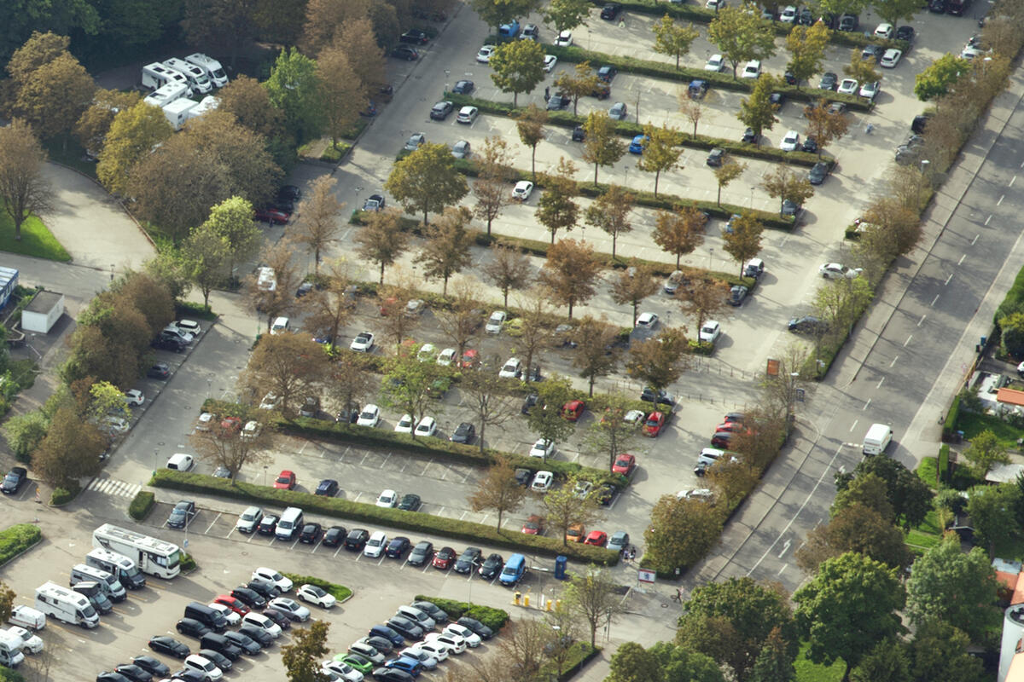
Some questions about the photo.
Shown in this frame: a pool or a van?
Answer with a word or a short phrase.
van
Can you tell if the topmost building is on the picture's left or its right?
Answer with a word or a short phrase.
left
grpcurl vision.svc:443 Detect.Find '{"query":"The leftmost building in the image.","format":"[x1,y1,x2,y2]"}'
[19,287,64,333]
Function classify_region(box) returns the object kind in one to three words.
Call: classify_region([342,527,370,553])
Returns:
car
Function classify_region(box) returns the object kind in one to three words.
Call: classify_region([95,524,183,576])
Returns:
vehicle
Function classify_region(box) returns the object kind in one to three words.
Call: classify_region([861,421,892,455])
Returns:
van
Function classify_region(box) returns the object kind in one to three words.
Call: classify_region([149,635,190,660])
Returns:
car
